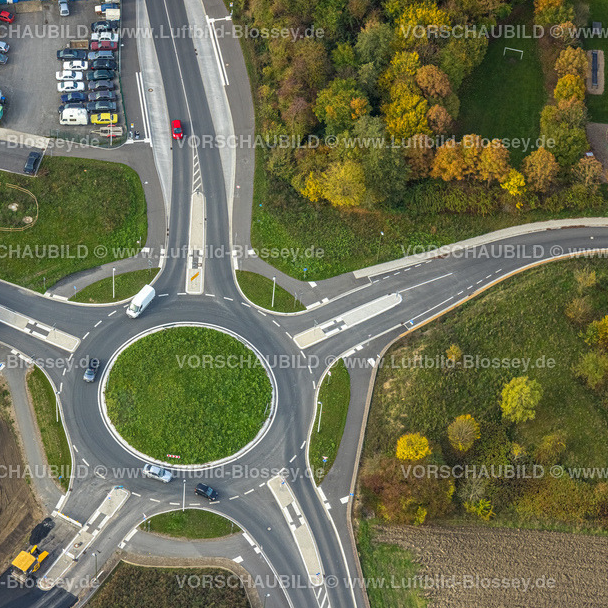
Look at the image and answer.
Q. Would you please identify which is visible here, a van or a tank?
van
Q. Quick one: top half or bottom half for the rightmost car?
bottom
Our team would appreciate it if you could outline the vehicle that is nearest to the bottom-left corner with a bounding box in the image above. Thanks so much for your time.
[142,463,173,483]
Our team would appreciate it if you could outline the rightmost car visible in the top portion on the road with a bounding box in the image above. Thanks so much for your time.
[171,120,183,139]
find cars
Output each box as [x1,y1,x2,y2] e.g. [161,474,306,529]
[58,102,85,113]
[63,59,88,72]
[93,21,120,33]
[88,49,114,61]
[0,53,7,64]
[88,100,116,112]
[25,152,42,175]
[0,10,16,24]
[91,59,117,71]
[171,120,183,139]
[91,40,117,51]
[89,89,115,102]
[88,79,114,91]
[58,48,86,60]
[142,463,173,483]
[58,80,84,93]
[56,69,83,81]
[193,481,221,502]
[91,32,117,42]
[88,70,114,81]
[91,112,117,124]
[0,41,11,54]
[61,92,87,103]
[57,0,71,18]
